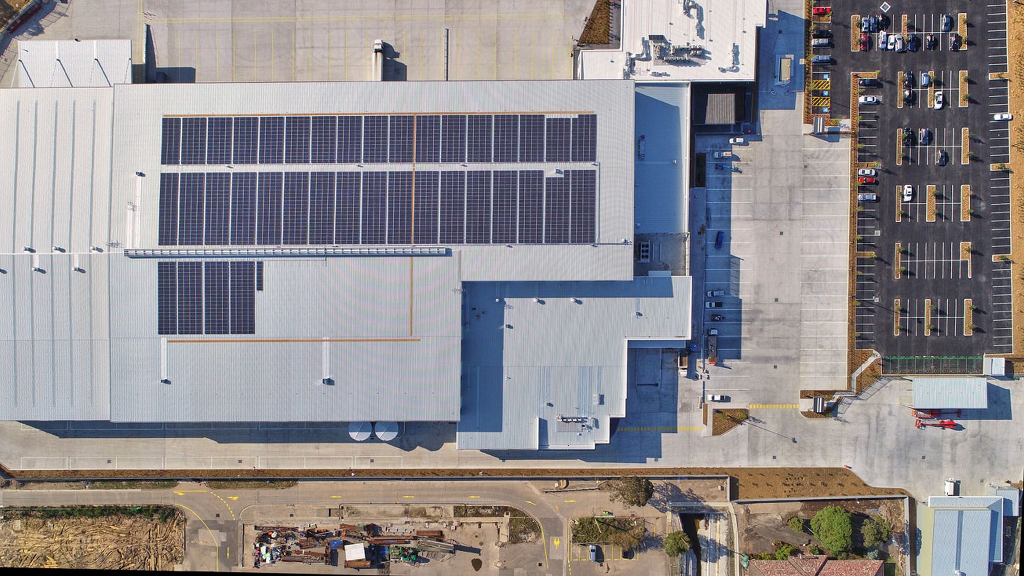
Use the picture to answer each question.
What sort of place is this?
industrial area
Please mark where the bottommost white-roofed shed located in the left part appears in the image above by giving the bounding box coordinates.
[344,538,369,562]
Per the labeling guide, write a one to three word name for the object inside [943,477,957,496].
vehicle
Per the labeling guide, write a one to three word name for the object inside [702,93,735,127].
building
